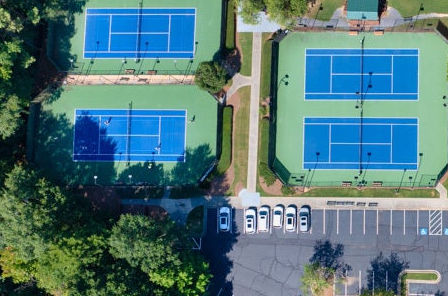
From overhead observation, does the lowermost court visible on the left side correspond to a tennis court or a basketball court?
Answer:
tennis court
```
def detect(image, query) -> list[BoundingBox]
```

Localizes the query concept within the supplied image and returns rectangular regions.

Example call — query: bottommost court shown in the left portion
[34,85,212,185]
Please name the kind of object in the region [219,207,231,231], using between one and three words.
vehicle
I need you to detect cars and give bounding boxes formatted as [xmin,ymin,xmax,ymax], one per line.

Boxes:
[274,206,284,228]
[245,210,257,234]
[299,207,310,231]
[258,206,270,231]
[285,207,297,231]
[219,207,231,231]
